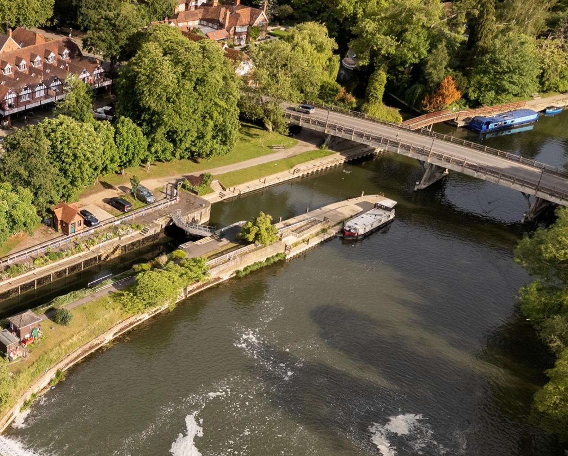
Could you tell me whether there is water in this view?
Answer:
Yes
